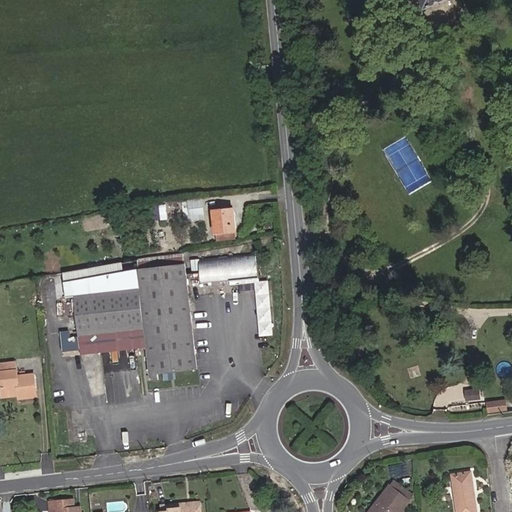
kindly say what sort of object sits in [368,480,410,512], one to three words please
house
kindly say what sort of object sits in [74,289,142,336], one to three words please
building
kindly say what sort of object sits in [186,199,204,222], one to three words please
barn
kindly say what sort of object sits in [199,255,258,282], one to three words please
hangar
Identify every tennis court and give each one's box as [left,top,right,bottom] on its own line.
[382,136,432,195]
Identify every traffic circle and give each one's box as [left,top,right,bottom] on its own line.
[256,368,372,485]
